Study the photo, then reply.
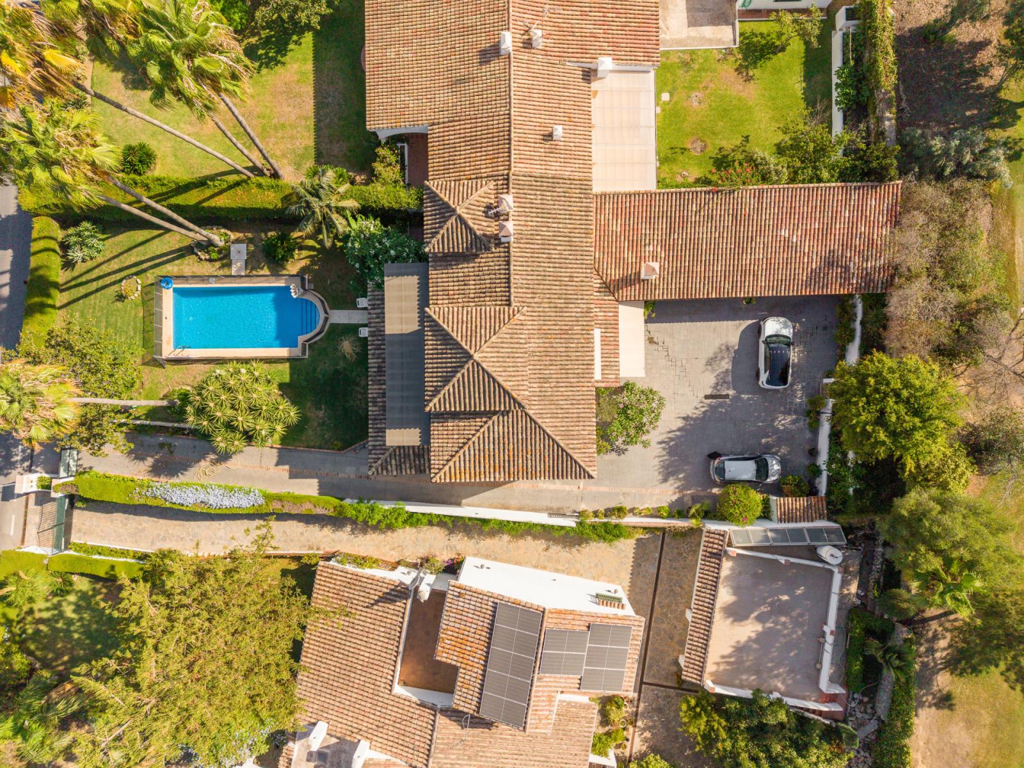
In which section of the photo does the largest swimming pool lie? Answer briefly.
left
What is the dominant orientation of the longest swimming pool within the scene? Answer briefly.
horizontally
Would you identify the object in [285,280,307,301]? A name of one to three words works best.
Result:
fountain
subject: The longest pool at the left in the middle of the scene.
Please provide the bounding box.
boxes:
[162,275,330,359]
